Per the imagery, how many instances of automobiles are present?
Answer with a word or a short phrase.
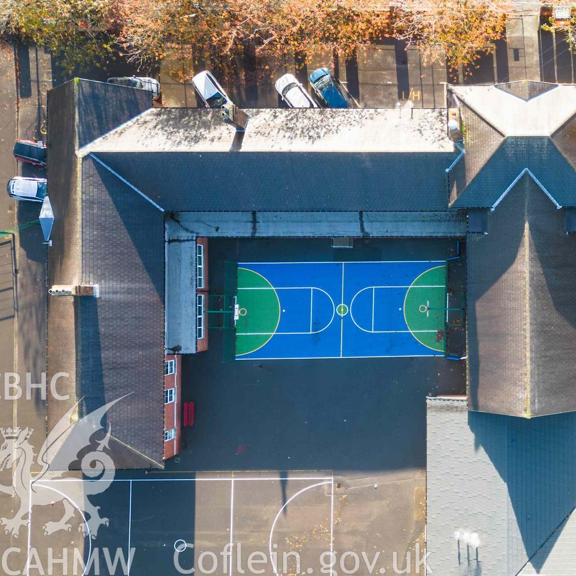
6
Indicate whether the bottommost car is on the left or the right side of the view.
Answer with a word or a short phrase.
left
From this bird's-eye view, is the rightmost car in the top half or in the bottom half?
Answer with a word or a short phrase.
top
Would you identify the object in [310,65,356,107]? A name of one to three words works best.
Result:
car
